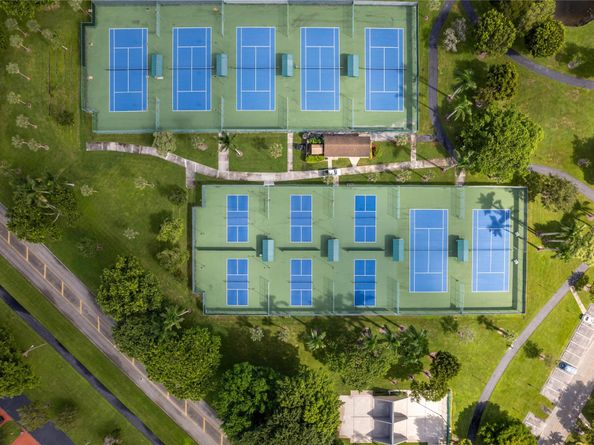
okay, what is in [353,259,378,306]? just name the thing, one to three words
sports court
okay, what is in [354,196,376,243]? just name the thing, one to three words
sports court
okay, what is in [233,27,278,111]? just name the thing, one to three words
tennis court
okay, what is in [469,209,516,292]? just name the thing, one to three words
tennis court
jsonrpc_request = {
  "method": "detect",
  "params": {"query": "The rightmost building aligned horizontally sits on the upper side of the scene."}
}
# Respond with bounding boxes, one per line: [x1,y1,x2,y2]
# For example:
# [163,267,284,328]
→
[324,136,372,160]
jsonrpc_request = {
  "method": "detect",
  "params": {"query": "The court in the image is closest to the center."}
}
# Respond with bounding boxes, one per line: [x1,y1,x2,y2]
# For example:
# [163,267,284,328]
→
[291,196,312,243]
